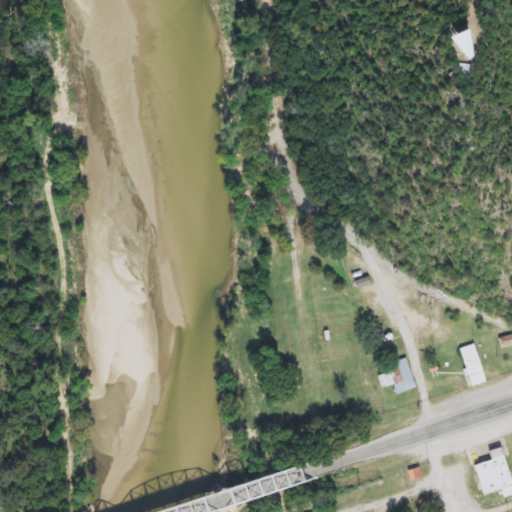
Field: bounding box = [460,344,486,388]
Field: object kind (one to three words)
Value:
house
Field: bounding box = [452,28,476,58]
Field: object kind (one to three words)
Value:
building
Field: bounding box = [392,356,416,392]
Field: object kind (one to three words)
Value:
house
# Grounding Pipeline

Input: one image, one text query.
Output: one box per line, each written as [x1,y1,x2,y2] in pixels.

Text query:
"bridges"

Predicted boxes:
[162,460,328,512]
